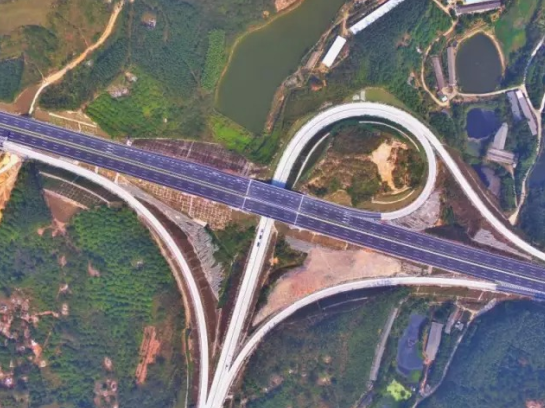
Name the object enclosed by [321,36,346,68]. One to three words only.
building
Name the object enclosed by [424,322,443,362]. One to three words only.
shed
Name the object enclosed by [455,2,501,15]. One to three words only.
barn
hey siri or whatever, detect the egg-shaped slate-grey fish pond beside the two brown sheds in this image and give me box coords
[455,32,502,93]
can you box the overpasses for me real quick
[243,180,306,226]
